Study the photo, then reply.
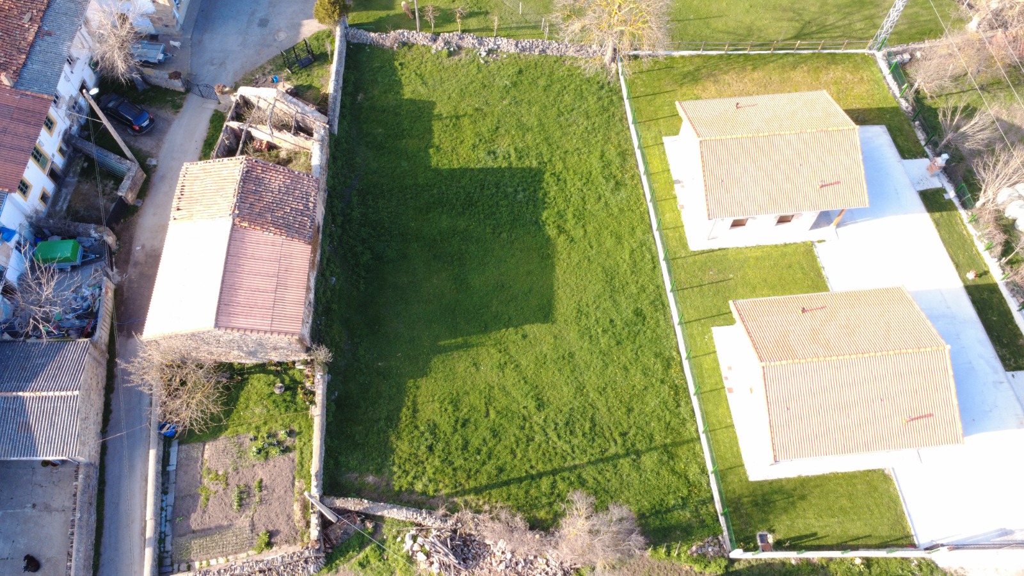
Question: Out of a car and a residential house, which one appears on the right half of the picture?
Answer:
residential house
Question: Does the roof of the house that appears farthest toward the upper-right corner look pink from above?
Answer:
No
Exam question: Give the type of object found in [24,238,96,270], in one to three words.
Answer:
trailer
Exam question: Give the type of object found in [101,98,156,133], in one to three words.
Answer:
car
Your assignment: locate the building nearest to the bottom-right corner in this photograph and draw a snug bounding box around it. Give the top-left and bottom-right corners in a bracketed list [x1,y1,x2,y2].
[730,292,970,469]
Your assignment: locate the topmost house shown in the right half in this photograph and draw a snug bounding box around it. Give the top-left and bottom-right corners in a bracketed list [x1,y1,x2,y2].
[679,93,873,238]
